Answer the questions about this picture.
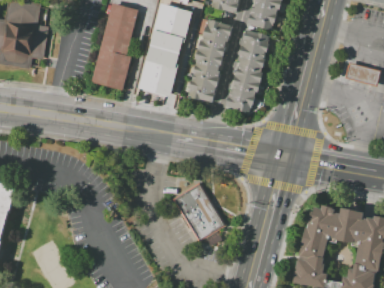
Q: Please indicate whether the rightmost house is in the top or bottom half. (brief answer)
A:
bottom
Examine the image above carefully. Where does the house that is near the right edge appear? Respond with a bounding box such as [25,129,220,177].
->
[294,205,384,288]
